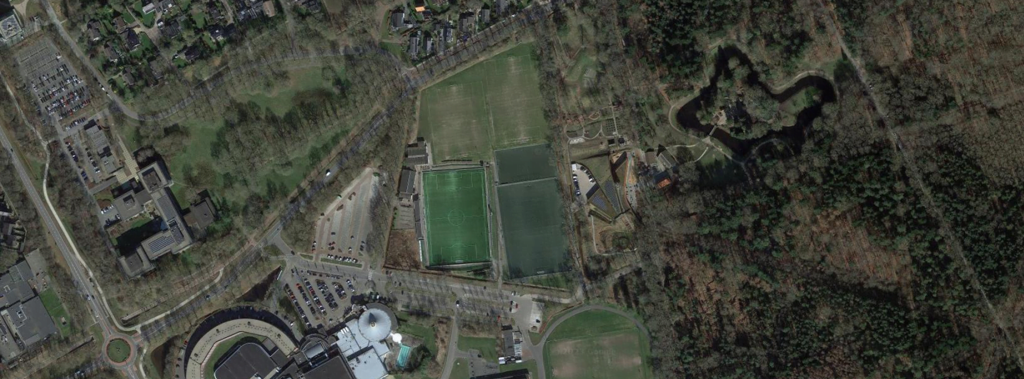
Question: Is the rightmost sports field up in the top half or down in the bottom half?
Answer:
bottom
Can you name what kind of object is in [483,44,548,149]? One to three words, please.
soccer field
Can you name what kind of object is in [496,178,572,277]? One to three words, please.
sports field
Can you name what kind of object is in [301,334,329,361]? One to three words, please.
building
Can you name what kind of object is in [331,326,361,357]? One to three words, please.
building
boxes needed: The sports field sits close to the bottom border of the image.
[547,329,641,379]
